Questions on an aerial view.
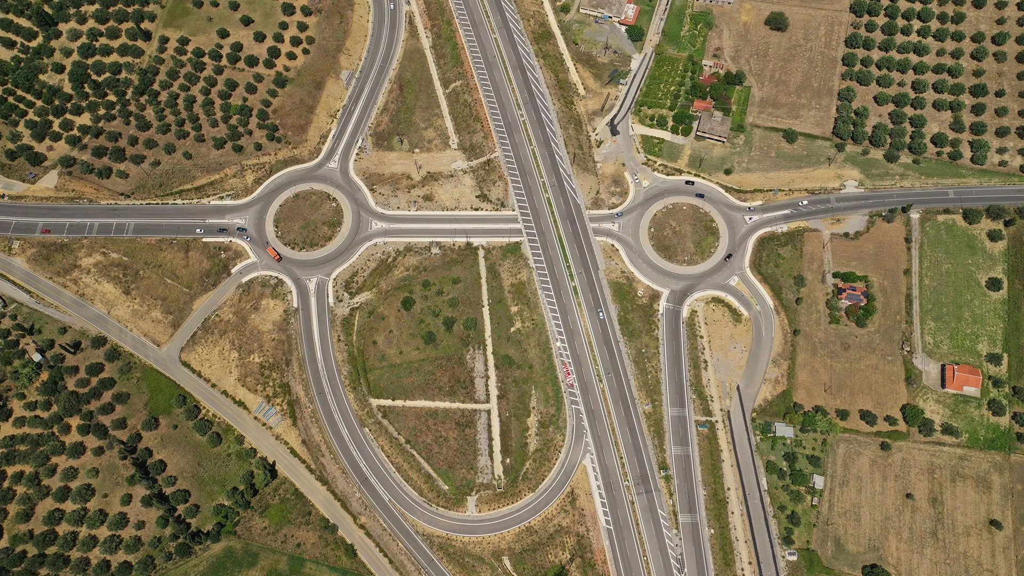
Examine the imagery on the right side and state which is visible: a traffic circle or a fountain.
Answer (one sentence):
What appears on the right side is a traffic circle.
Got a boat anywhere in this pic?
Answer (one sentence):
No, there isn't any boat down there.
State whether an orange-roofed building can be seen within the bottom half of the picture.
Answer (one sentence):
Yes, there is an orange-roofed building within the bottom half of the picture.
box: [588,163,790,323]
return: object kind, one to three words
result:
roundabout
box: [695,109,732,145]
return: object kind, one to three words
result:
house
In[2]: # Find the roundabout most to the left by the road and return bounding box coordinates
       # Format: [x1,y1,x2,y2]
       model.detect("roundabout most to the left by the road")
[202,125,523,307]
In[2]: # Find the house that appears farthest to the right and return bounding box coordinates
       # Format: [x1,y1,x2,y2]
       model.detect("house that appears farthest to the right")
[937,363,982,399]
